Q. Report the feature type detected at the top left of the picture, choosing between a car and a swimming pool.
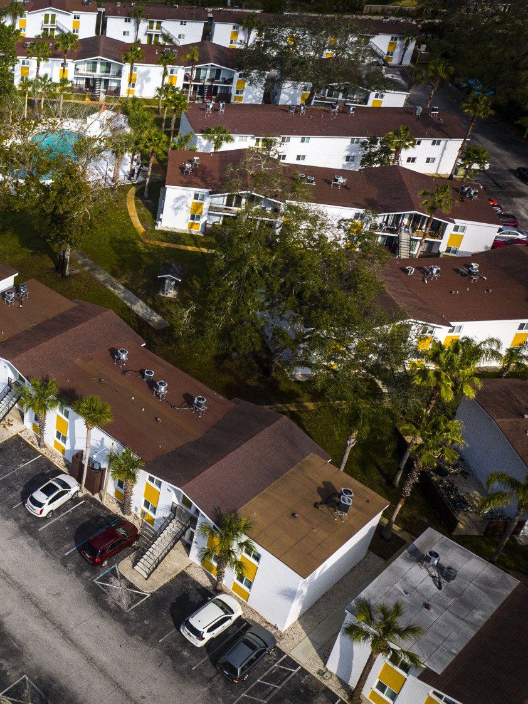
swimming pool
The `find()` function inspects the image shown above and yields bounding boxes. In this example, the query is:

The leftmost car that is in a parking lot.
[25,479,78,519]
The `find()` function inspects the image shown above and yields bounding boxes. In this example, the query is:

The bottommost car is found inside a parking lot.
[214,625,278,684]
